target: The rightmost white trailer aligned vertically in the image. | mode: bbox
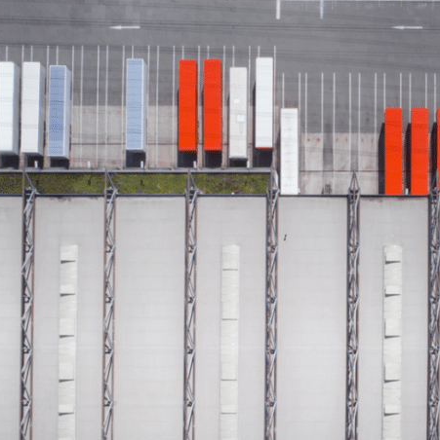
[280,107,298,193]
